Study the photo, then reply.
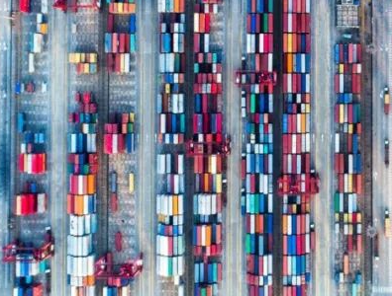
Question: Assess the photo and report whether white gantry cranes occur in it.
No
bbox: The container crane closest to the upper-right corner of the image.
[235,70,279,90]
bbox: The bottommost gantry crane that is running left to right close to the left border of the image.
[4,236,57,260]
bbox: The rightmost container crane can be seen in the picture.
[277,169,321,191]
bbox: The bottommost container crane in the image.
[96,254,145,279]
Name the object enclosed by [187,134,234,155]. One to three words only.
container crane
